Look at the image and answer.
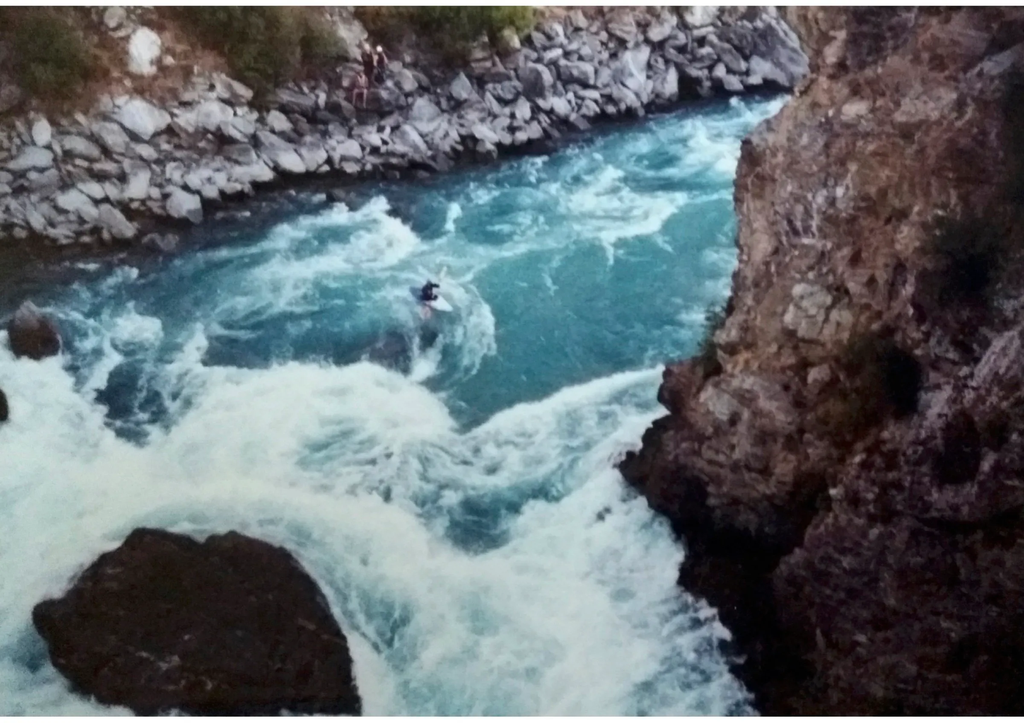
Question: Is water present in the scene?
Yes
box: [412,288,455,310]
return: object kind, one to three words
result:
boat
